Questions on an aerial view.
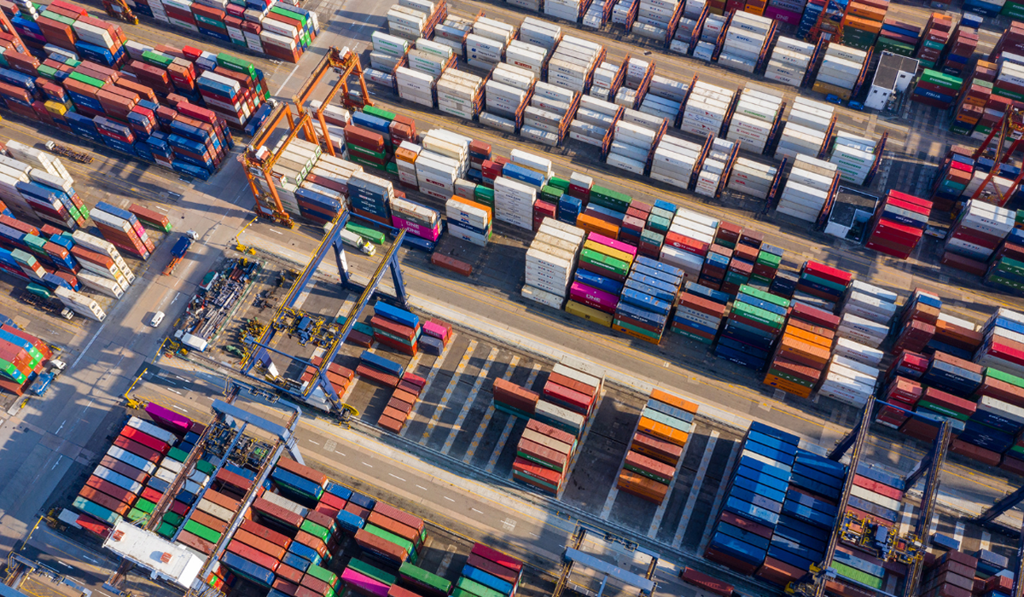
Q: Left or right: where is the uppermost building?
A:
right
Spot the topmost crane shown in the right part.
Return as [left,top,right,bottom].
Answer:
[800,0,859,47]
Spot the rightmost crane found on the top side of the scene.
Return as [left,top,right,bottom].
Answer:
[943,111,1024,247]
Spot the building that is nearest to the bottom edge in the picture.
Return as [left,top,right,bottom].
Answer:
[825,184,881,245]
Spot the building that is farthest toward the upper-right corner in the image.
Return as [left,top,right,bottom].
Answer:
[864,50,921,116]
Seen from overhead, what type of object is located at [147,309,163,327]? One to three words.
vehicle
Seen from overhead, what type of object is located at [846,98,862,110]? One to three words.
vehicle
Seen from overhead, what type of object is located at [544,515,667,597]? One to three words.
container crane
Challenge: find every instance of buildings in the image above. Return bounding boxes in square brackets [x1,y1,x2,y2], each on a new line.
[864,50,921,116]
[825,184,881,245]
